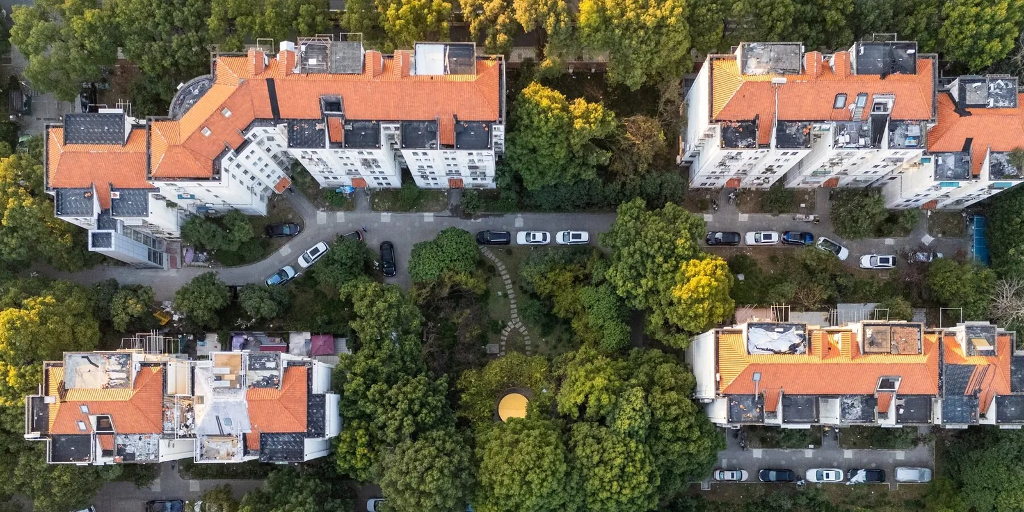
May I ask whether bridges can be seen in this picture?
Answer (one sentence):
No, the picture doesn't show any bridge.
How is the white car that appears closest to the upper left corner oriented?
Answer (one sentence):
Seen from above, the white car that appears closest to the upper left corner lies at an angle.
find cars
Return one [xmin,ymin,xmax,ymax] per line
[266,221,298,237]
[148,499,183,512]
[781,230,812,246]
[706,230,739,246]
[82,83,99,113]
[759,468,793,483]
[815,236,846,260]
[479,230,510,246]
[745,230,779,246]
[518,230,550,246]
[298,241,327,267]
[380,241,396,276]
[848,469,883,484]
[715,468,746,483]
[364,500,395,512]
[859,253,895,269]
[267,265,295,286]
[557,230,588,245]
[807,468,842,484]
[335,232,367,245]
